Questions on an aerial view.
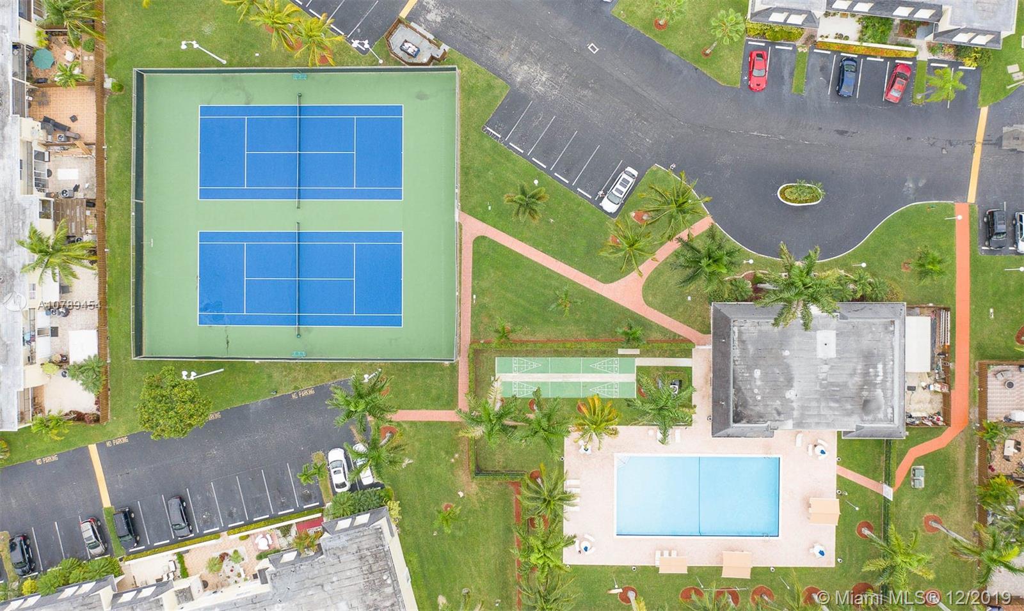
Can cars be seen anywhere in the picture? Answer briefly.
Yes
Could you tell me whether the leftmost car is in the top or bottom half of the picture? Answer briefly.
bottom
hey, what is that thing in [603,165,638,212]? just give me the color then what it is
white car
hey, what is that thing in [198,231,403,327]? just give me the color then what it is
blue tennis court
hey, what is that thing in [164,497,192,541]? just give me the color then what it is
gray car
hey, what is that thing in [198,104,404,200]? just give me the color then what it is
blue tennis court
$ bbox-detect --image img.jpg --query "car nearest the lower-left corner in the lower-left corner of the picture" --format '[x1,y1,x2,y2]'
[3,536,33,579]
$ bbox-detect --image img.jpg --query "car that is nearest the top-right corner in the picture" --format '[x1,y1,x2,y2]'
[885,61,911,103]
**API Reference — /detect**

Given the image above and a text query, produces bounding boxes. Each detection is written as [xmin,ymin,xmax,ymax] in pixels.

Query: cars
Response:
[885,61,911,103]
[164,497,192,541]
[329,449,351,493]
[748,50,769,91]
[1014,211,1024,253]
[985,209,1010,249]
[77,517,106,560]
[837,55,861,96]
[108,509,139,553]
[3,536,33,579]
[603,165,638,212]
